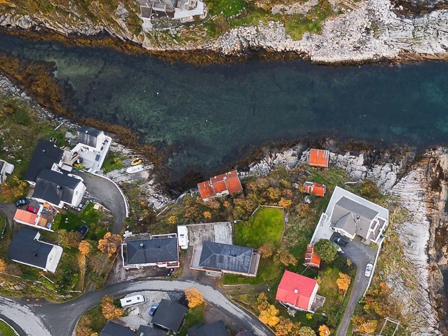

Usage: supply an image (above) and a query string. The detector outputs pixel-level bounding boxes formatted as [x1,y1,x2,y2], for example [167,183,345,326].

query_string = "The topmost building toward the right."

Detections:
[309,148,330,169]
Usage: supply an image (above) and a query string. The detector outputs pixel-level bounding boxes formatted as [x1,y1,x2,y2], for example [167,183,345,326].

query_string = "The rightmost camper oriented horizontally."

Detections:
[116,293,148,307]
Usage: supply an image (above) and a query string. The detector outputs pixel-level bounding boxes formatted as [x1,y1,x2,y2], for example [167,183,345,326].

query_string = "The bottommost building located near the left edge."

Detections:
[9,229,67,268]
